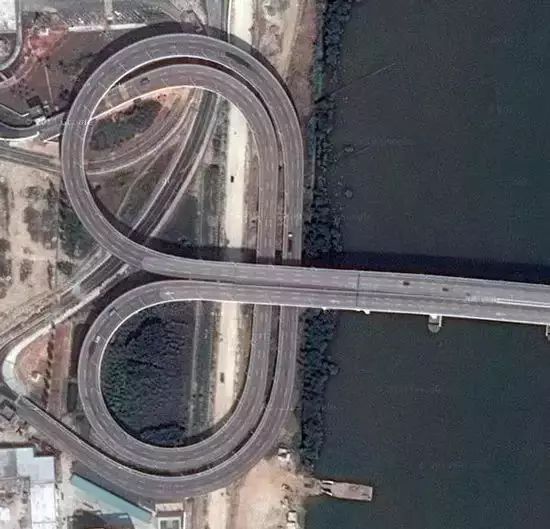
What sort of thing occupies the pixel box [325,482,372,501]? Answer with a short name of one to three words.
ship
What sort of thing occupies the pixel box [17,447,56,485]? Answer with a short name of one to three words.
building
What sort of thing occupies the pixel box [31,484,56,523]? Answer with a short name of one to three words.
building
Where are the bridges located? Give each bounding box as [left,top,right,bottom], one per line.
[138,248,550,340]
